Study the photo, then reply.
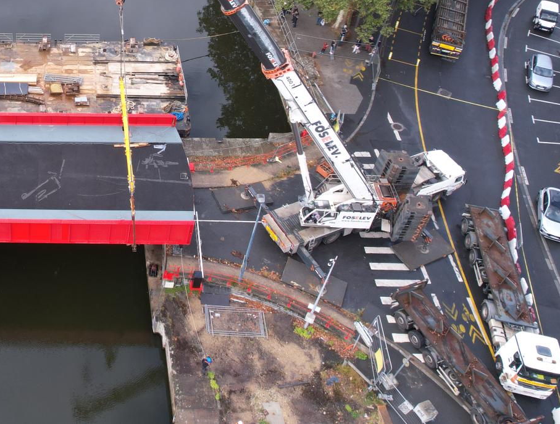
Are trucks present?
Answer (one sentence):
Yes, there's a truck down there.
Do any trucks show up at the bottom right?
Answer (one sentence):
Yes, I can see a truck at the bottom right.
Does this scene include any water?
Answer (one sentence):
Yes, there's water in this view.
